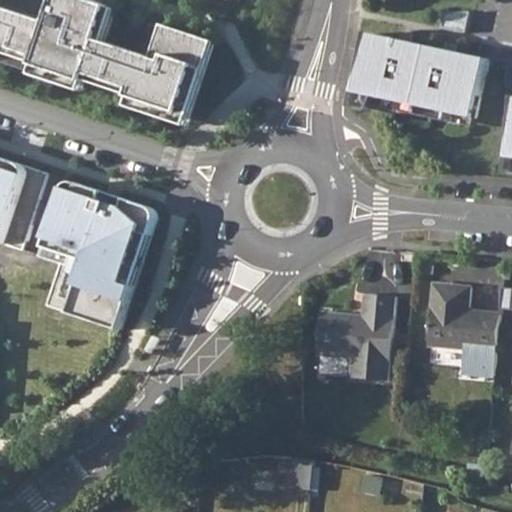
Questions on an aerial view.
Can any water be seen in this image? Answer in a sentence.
No, water can't be seen anywhere here.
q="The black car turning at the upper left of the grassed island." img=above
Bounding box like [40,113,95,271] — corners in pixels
[240,164,257,185]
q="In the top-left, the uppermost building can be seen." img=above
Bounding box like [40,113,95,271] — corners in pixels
[0,0,222,126]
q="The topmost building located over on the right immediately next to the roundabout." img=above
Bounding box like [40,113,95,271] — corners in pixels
[347,33,484,128]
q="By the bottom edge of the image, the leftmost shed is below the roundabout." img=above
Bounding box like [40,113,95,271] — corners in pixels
[299,464,322,494]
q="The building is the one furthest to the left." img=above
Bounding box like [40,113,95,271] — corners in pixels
[0,159,52,250]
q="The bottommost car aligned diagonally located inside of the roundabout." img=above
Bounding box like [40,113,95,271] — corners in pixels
[309,216,328,238]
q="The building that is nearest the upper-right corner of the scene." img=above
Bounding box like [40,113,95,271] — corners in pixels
[442,10,471,34]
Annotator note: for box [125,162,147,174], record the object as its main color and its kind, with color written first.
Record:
white vehicle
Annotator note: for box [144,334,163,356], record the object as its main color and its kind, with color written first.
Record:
white vehicle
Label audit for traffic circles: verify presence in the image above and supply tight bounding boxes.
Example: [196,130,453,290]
[202,124,358,283]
